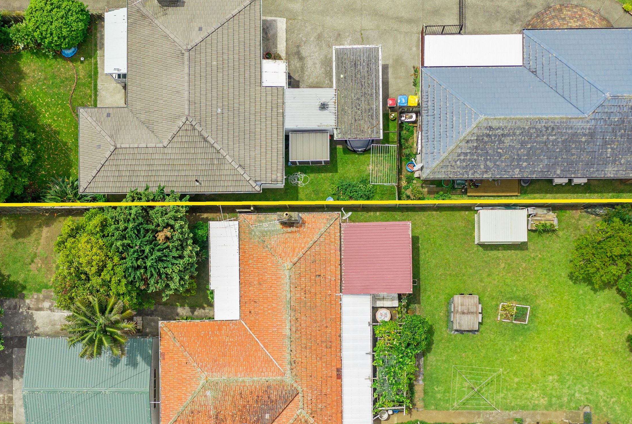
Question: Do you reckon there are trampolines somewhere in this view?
No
